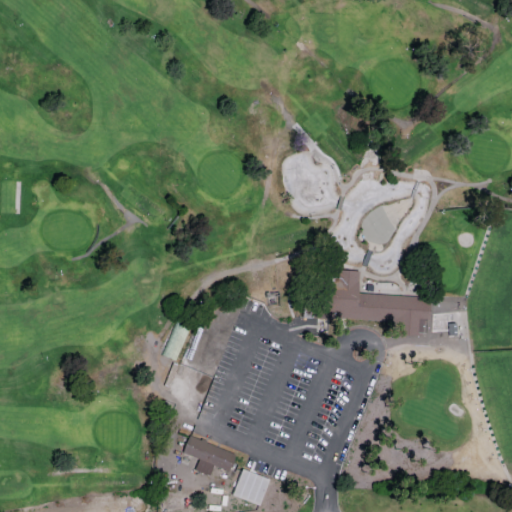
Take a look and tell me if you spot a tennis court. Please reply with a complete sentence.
No, I can't see a single tennis court in this photo.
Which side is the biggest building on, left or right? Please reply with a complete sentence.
The biggest building is on the right side of the image.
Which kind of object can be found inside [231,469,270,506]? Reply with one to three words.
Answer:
building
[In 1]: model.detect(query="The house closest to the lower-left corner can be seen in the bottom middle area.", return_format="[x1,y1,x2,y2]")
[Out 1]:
[182,436,237,475]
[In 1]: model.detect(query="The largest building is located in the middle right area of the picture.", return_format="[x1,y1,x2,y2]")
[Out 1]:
[330,270,434,338]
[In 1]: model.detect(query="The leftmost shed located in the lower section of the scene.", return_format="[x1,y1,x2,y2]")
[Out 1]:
[162,321,190,360]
